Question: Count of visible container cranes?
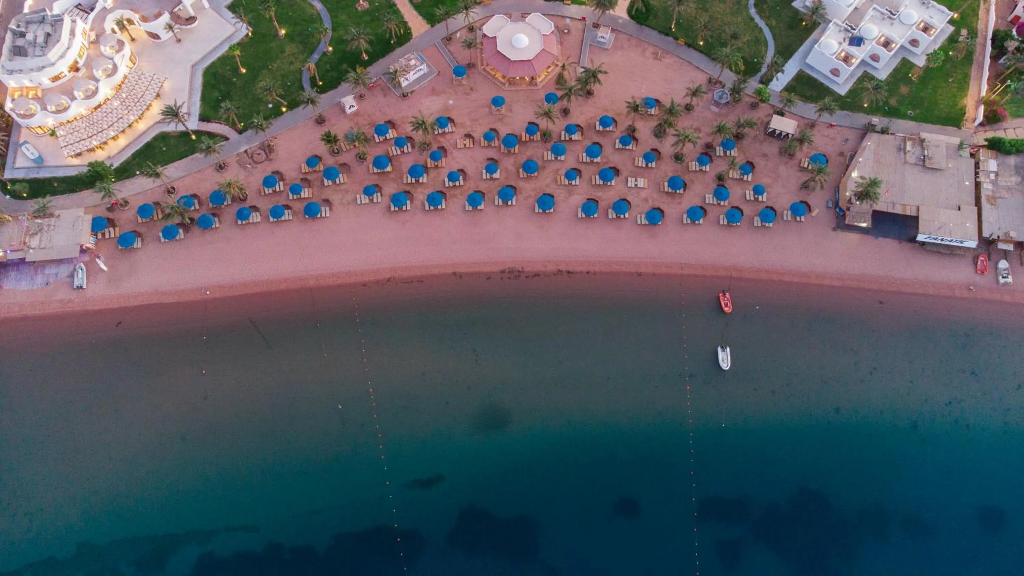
0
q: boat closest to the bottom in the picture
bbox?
[716,343,731,371]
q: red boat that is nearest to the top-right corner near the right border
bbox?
[976,253,989,275]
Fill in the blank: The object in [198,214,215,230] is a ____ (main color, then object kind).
blue umbrella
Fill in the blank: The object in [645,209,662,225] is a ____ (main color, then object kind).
blue umbrella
